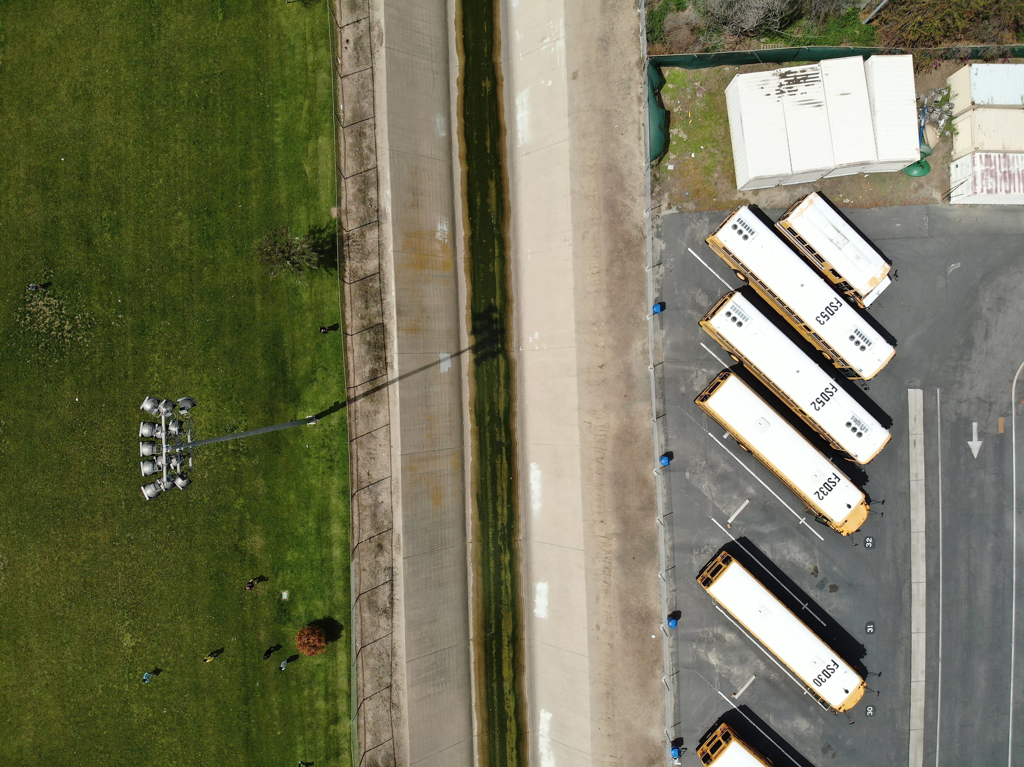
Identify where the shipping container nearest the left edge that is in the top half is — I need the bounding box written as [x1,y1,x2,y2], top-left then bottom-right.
[725,70,791,191]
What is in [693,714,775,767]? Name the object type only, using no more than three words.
bus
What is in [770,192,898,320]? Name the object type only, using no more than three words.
bus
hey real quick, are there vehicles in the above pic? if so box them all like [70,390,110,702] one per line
[692,545,882,725]
[691,370,883,546]
[702,208,896,394]
[694,293,890,474]
[693,714,775,767]
[770,192,898,320]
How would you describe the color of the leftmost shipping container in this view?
white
